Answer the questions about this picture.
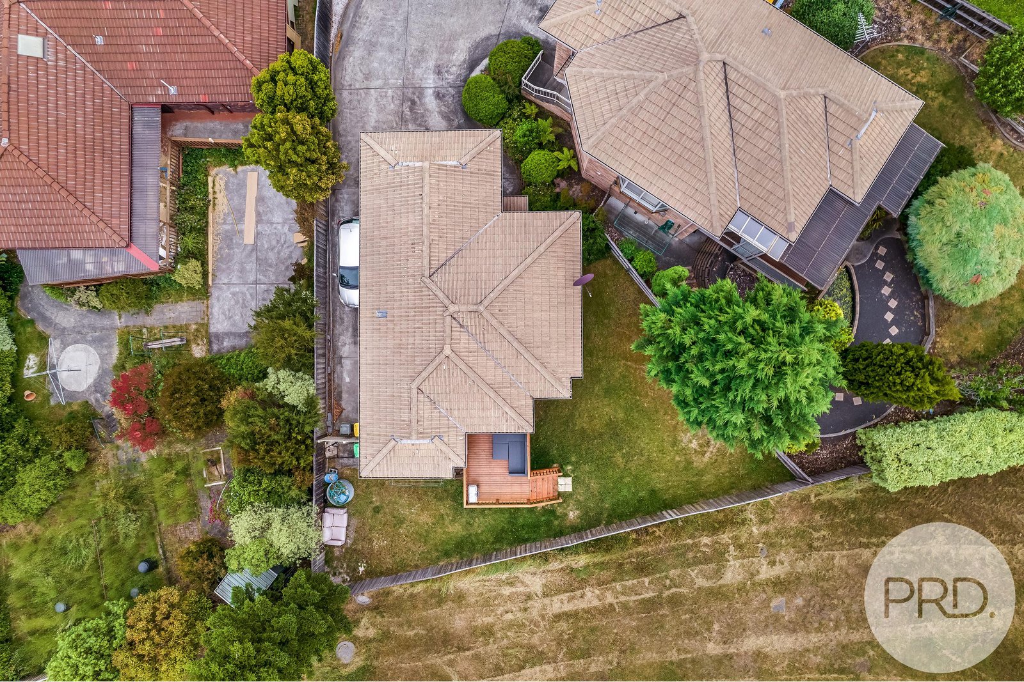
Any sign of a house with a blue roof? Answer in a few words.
No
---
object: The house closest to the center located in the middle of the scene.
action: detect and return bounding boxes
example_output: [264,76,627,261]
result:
[357,127,585,481]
